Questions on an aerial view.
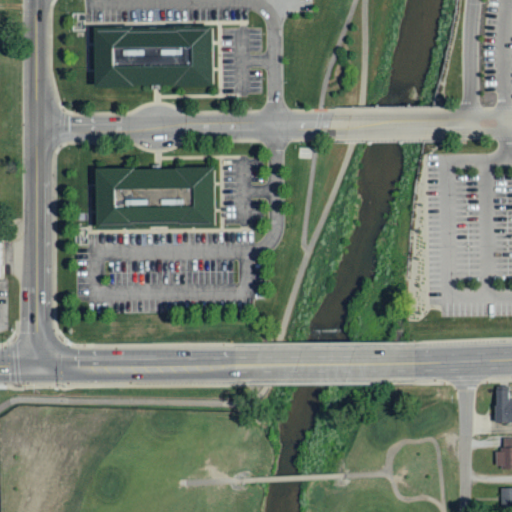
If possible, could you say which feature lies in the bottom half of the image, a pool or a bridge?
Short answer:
bridge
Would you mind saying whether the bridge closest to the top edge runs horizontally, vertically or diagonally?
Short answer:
horizontally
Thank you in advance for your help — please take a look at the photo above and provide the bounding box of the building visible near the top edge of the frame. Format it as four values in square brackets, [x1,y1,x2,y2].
[94,26,214,89]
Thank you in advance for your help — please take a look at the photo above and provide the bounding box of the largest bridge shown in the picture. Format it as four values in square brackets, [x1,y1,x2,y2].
[230,342,416,387]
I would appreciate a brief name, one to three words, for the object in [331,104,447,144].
bridge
